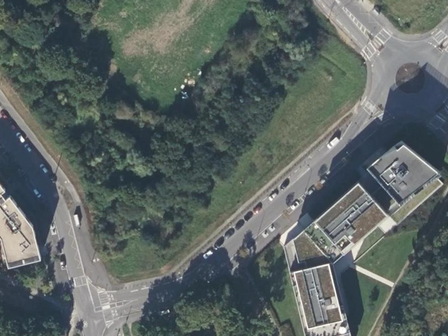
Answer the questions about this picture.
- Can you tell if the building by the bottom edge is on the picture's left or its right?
right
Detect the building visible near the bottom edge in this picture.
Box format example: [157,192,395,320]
[284,224,352,336]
